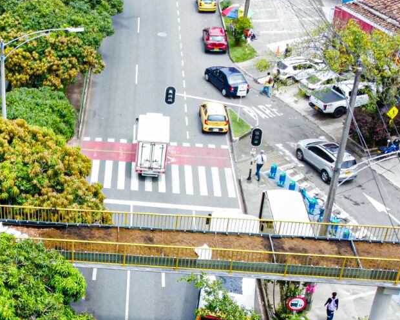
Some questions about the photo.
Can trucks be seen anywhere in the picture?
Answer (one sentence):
Yes, the picture does show a truck.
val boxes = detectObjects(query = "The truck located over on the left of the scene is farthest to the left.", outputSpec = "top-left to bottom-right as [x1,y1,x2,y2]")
[133,108,172,179]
